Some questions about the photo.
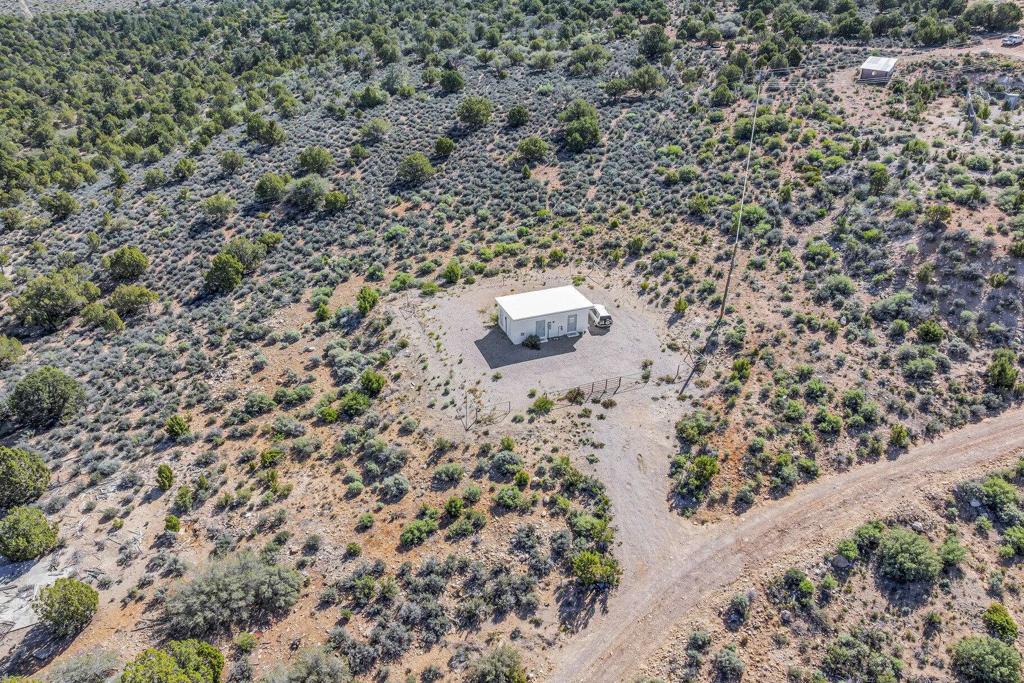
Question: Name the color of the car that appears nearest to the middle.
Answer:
white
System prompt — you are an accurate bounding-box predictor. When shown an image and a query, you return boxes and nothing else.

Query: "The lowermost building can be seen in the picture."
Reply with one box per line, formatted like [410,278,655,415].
[495,286,594,345]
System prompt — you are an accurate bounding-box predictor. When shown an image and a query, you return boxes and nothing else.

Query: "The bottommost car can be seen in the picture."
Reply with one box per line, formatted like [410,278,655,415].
[592,304,615,324]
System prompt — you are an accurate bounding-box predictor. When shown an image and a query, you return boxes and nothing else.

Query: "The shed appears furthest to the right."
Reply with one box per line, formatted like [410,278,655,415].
[859,55,910,80]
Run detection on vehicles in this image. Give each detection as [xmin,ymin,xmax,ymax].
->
[592,304,615,324]
[1003,37,1024,45]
